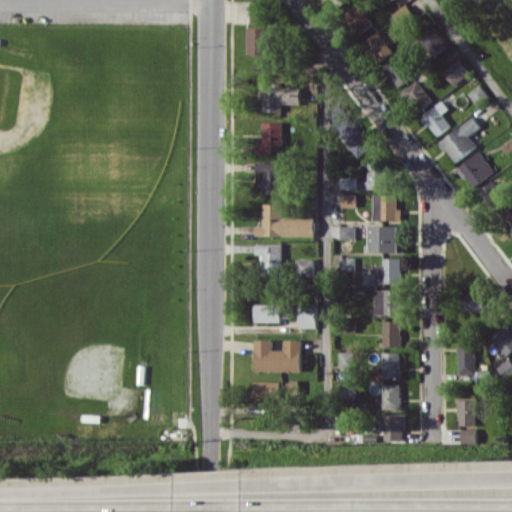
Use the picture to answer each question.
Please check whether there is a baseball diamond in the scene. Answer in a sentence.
Yes, there's a baseball diamond here.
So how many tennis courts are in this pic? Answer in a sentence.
The picture shows no tennis courts.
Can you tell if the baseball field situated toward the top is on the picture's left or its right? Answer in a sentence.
You can find the baseball field situated toward the top on the left side of the picture.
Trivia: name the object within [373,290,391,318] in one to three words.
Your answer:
house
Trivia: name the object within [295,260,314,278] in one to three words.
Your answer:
building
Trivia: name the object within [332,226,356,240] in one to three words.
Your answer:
building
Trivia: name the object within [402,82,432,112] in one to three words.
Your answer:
house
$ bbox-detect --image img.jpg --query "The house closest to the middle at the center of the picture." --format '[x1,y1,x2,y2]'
[254,244,282,271]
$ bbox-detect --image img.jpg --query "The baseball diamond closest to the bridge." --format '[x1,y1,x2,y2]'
[0,262,137,416]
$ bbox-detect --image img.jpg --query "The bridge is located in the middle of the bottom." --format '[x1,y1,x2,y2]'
[172,470,240,512]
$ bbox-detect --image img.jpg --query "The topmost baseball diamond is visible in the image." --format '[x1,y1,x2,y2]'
[0,26,180,288]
